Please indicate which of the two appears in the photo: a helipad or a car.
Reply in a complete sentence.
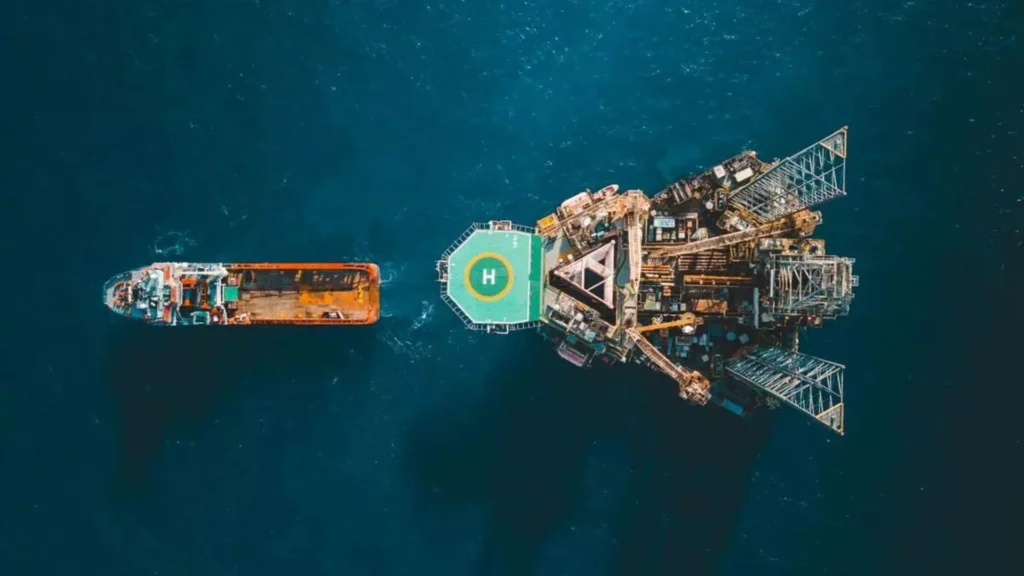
There is a helipad in the scene.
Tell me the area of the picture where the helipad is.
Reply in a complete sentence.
The helipad is located in the center region of the scene.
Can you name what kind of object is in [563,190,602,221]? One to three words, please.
boat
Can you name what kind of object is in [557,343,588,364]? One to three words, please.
boat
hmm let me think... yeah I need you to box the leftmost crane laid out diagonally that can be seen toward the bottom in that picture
[619,322,717,408]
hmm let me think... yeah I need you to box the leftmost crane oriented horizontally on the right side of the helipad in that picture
[637,313,703,335]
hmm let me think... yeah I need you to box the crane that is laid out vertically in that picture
[609,189,653,299]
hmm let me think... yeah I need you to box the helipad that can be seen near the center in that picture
[437,220,546,333]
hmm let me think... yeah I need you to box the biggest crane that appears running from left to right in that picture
[638,205,826,268]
